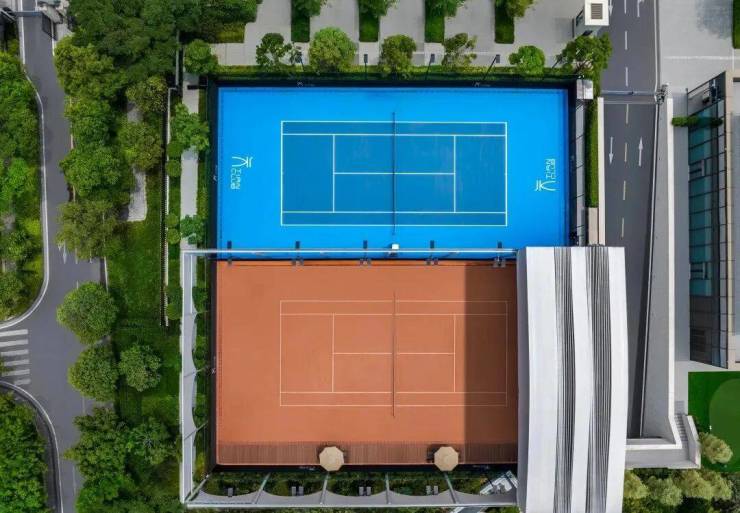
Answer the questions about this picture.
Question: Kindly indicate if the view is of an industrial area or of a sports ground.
sports ground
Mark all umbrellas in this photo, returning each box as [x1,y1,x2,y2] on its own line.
[318,444,345,471]
[433,444,459,470]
